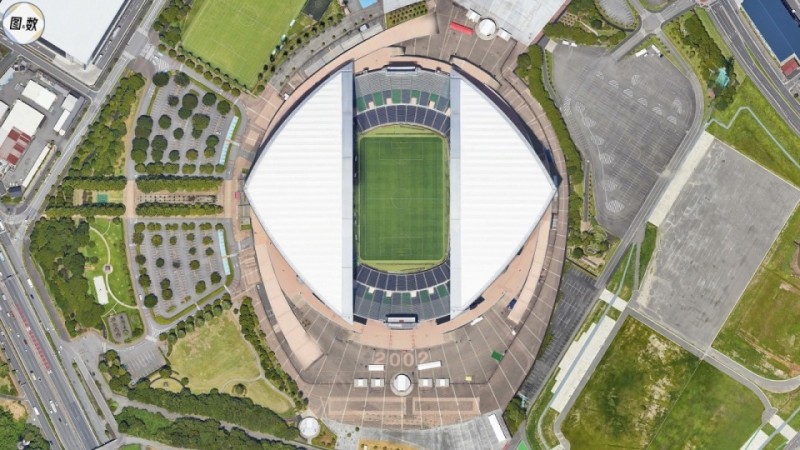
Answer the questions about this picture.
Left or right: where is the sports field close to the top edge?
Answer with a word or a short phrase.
left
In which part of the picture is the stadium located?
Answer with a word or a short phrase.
center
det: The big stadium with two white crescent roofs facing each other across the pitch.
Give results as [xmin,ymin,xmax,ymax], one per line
[245,62,557,328]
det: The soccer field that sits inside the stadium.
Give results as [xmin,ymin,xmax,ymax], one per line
[359,137,444,260]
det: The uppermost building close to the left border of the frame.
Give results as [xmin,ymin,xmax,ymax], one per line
[0,0,132,70]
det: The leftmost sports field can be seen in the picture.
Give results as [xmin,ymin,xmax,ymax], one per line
[182,0,306,88]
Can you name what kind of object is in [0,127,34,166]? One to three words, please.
building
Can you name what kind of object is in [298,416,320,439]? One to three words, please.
building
